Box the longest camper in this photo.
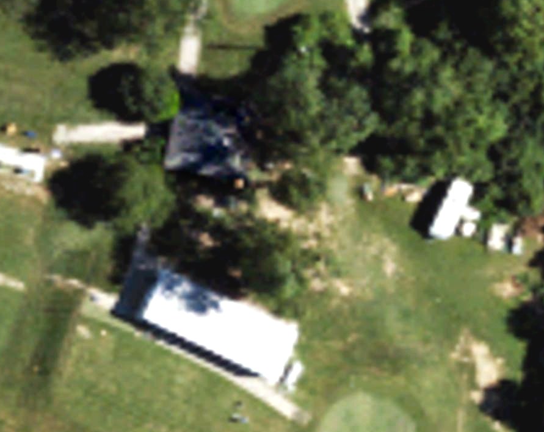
[432,178,471,239]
